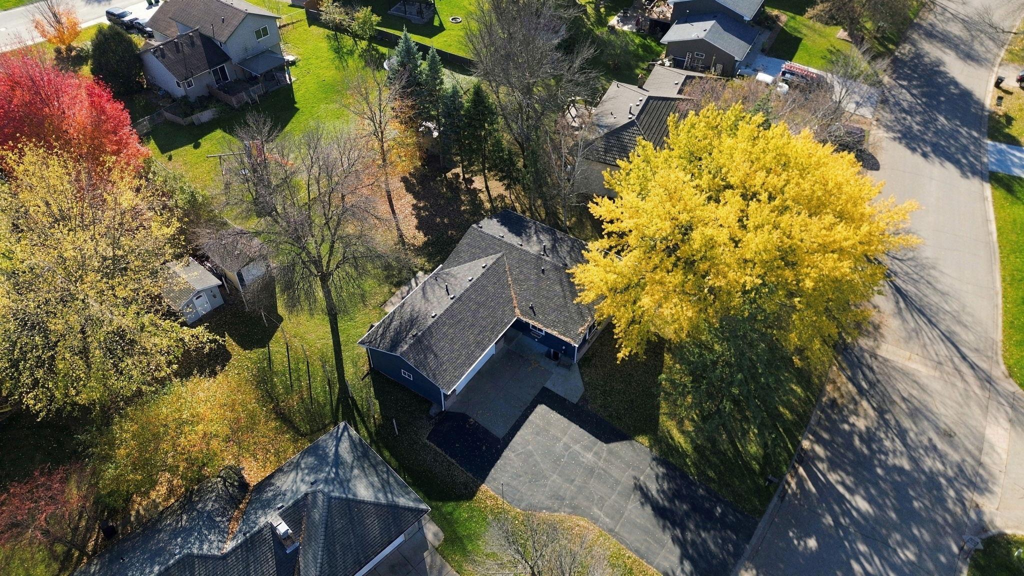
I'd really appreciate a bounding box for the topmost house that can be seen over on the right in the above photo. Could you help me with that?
[641,0,763,75]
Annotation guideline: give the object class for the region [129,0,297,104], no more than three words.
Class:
house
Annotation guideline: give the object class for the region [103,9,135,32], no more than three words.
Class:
car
